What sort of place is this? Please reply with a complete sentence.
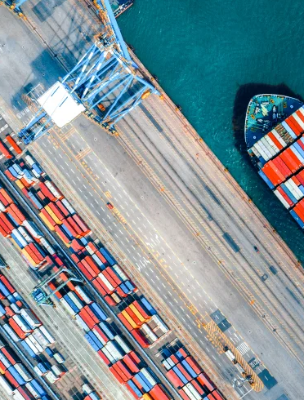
It's a port.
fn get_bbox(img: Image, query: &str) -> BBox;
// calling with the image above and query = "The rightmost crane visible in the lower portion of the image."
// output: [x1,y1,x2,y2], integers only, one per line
[25,268,86,311]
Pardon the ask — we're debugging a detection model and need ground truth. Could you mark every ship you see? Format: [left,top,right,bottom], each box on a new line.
[244,93,304,229]
[104,0,134,18]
